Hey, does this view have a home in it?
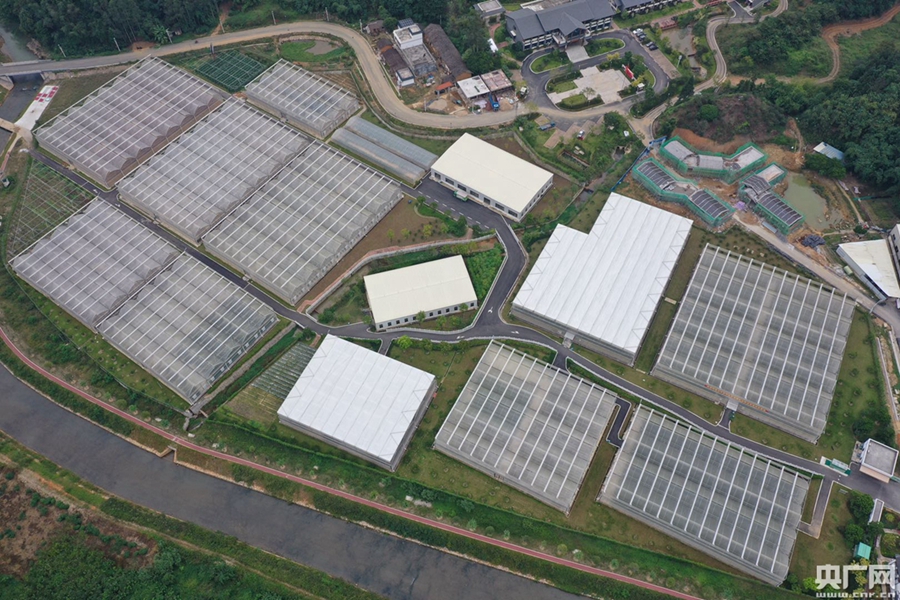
Yes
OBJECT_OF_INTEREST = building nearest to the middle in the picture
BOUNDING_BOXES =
[364,255,477,329]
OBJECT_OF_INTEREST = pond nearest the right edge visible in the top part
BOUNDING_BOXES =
[775,173,829,228]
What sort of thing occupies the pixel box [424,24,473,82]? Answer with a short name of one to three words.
barn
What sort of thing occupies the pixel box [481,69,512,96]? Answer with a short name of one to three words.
house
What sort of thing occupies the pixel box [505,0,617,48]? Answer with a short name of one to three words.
building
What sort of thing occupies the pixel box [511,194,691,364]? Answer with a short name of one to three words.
greenhouse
